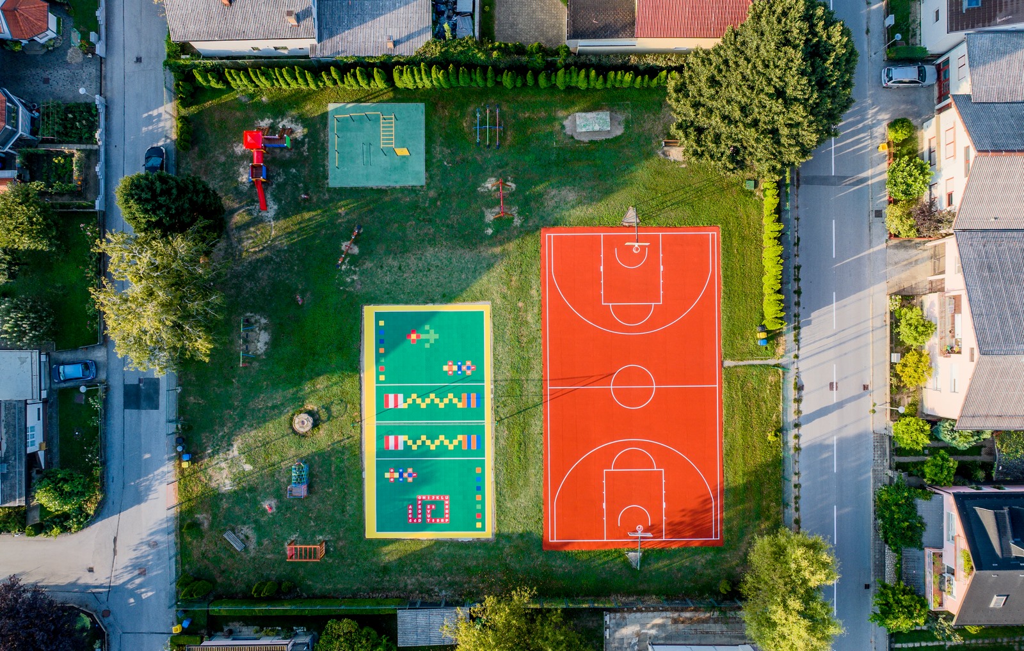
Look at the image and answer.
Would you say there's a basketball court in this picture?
Yes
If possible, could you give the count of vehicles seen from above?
three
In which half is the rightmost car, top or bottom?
top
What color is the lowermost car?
blue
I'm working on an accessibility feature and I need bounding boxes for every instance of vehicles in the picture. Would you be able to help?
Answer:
[881,61,937,89]
[52,359,99,384]
[142,147,169,175]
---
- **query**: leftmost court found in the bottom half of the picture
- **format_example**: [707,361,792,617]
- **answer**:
[360,302,496,542]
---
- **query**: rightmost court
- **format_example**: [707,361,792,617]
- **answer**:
[541,226,723,551]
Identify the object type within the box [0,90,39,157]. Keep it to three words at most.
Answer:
house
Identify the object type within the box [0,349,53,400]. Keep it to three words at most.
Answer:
building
